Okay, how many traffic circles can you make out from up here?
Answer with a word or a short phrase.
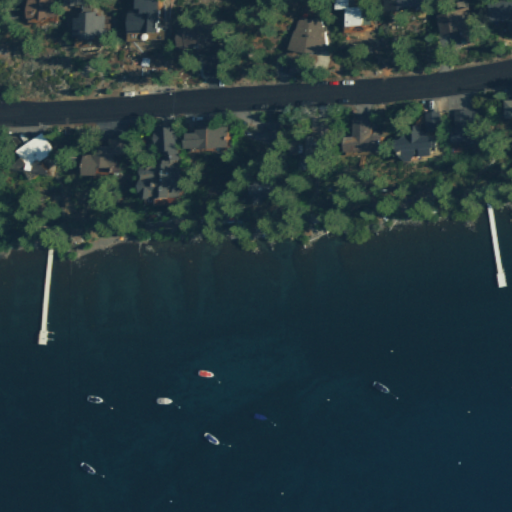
none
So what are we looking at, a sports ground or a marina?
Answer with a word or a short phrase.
marina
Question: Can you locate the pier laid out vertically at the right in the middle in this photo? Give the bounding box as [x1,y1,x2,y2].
[488,206,506,288]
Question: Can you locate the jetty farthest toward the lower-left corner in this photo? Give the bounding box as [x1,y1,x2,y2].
[39,251,54,344]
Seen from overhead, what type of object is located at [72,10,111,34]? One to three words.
house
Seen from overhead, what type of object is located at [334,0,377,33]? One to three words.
house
